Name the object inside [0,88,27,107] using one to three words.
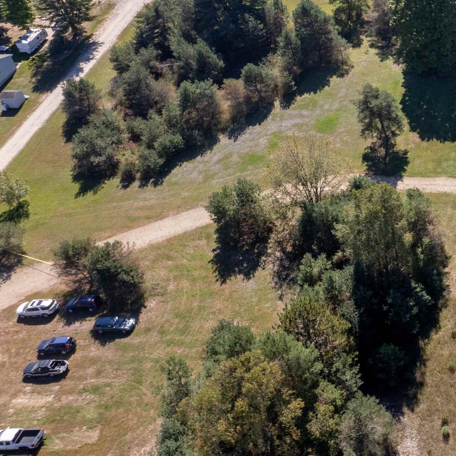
shed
